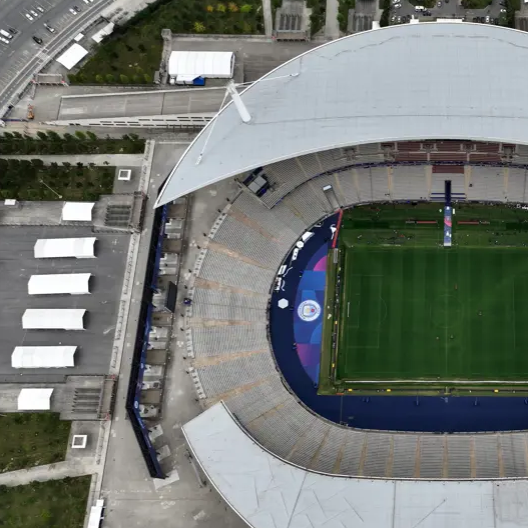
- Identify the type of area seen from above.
sports ground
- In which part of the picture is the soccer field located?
right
